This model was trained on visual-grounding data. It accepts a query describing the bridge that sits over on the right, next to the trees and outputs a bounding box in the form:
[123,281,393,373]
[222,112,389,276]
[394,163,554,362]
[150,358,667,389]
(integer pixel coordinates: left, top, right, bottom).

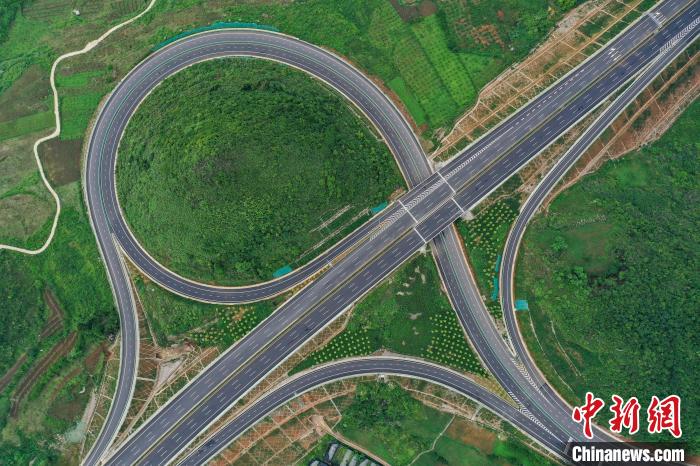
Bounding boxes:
[395,173,467,242]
